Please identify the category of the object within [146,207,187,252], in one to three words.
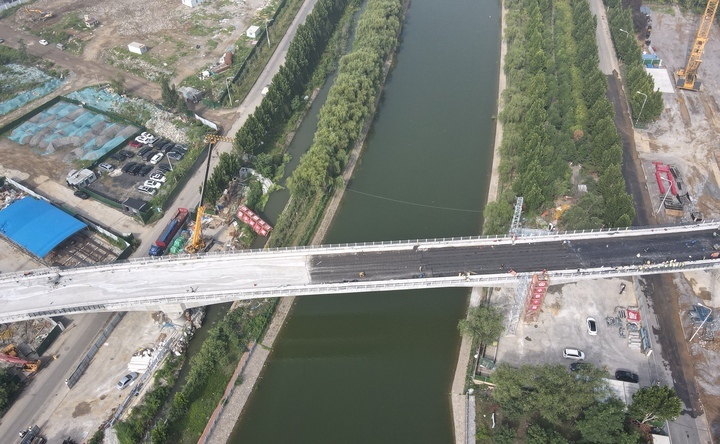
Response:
truck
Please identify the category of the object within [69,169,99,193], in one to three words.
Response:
building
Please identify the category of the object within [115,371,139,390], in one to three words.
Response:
car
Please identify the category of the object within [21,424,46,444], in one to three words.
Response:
vehicle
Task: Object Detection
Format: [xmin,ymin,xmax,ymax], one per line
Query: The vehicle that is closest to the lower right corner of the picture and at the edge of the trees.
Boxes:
[615,368,639,383]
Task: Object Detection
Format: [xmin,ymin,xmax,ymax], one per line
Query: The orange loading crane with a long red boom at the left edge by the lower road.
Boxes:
[0,353,45,379]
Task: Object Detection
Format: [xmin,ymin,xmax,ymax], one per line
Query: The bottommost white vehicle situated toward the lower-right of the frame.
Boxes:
[562,348,586,361]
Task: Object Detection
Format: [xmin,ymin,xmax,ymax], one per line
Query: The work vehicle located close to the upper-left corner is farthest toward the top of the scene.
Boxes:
[29,4,53,20]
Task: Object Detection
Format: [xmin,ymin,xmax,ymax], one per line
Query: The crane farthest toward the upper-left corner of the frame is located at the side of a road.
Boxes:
[175,133,242,253]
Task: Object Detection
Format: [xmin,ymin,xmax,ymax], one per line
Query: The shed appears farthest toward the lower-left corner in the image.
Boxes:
[0,196,93,269]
